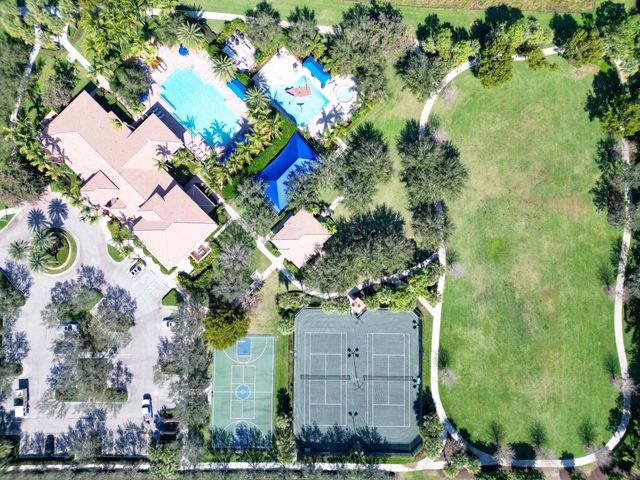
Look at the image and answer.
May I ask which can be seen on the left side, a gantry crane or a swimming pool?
swimming pool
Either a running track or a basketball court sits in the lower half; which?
basketball court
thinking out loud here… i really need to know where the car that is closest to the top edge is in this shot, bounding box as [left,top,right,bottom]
[127,263,146,279]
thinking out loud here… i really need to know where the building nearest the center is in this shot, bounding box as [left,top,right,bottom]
[272,208,331,267]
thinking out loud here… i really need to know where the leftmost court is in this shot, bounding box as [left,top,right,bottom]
[213,336,274,448]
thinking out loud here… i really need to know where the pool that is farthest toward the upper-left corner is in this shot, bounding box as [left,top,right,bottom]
[159,65,243,149]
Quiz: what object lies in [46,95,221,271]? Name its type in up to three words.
building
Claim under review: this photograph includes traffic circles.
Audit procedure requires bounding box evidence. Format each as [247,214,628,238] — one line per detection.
[32,229,79,276]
